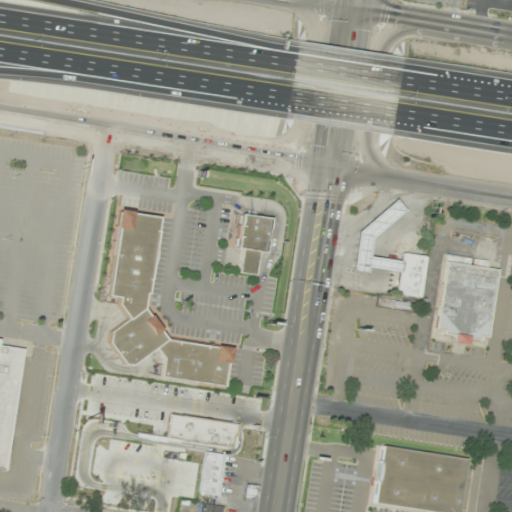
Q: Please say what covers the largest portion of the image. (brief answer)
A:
paved ground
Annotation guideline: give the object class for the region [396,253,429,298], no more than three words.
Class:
building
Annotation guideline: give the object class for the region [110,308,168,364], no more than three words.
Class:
building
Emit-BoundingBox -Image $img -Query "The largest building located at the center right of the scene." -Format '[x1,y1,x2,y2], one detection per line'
[430,254,502,346]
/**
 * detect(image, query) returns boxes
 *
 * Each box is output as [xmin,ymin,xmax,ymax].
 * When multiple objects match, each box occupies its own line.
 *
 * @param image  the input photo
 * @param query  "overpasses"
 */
[290,38,404,134]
